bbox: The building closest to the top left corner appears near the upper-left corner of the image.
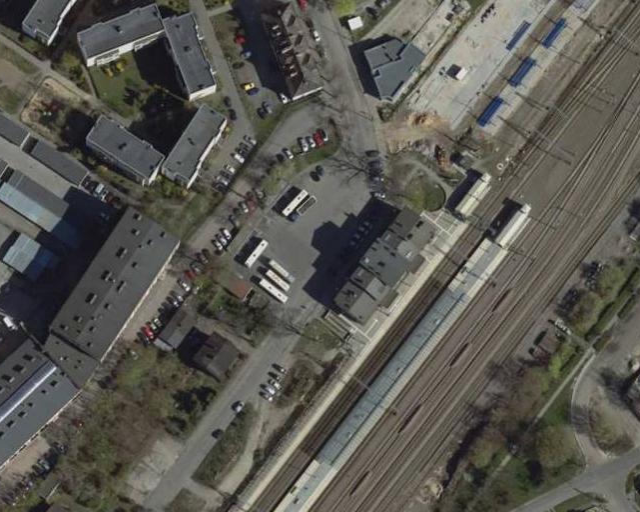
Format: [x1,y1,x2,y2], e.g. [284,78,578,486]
[23,0,77,43]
